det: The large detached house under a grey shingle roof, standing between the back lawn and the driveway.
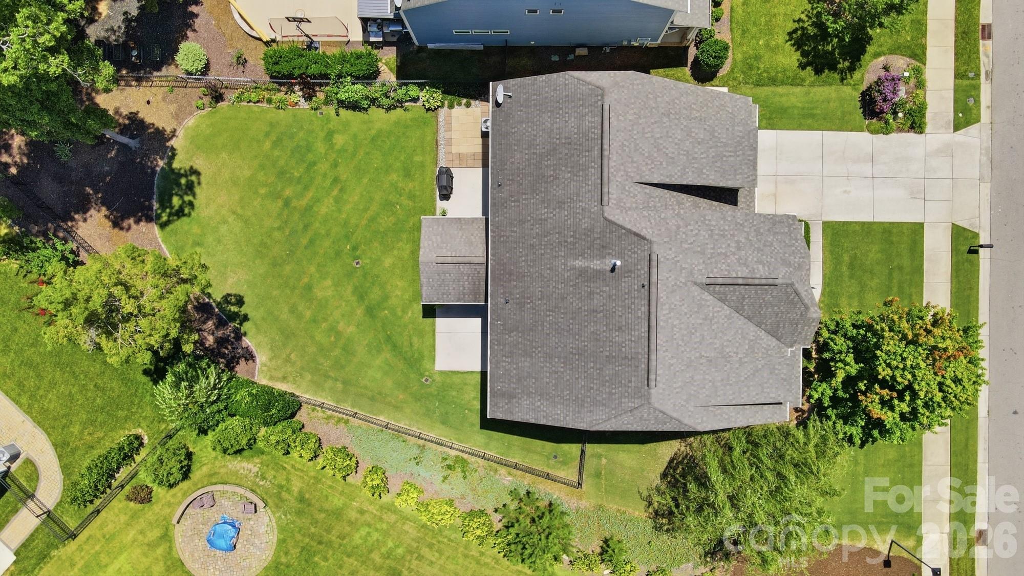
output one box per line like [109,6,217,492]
[420,69,822,432]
